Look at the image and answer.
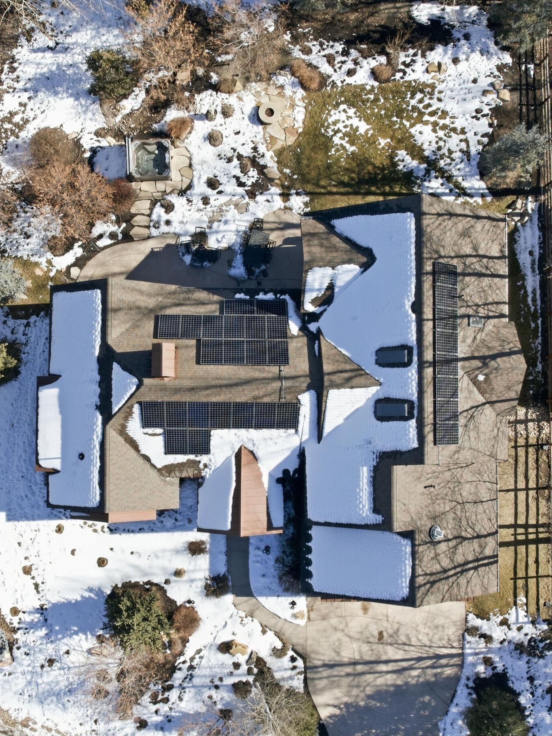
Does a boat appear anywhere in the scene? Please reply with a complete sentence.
No, the frame has no boat in it.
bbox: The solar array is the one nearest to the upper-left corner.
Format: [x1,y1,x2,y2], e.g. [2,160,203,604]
[159,299,288,365]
